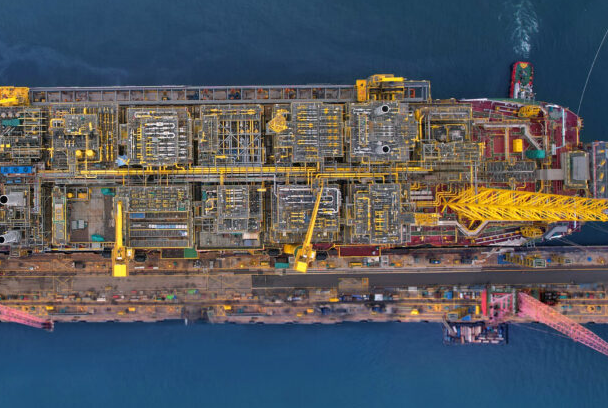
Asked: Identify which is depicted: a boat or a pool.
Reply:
boat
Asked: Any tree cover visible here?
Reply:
No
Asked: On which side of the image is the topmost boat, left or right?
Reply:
right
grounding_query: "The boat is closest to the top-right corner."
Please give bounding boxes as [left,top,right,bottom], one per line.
[508,61,534,100]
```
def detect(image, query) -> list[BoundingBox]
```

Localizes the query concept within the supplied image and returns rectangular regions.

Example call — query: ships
[441,313,508,344]
[0,86,608,259]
